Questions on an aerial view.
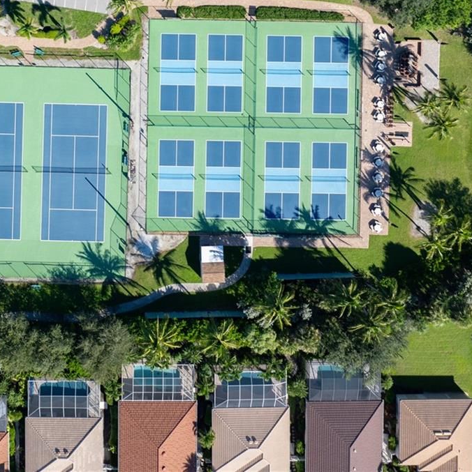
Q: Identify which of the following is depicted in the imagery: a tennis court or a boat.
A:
tennis court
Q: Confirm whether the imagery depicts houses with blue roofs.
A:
No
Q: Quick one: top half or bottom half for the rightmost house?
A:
bottom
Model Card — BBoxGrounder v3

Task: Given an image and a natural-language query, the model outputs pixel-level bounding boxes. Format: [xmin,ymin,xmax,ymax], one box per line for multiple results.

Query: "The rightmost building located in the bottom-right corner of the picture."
[396,394,472,472]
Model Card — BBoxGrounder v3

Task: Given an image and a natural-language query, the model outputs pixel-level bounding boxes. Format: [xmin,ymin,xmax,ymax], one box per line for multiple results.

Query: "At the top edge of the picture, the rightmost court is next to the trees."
[306,22,362,128]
